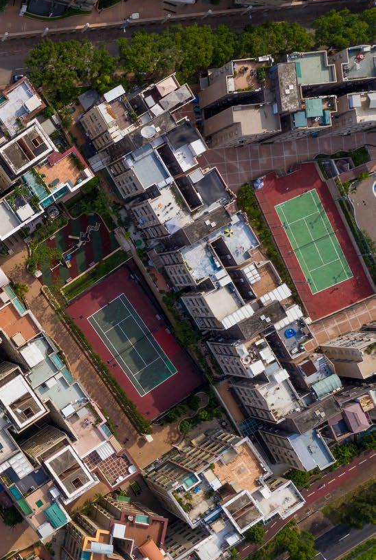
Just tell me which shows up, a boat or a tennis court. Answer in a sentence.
Of the two, only a tennis court appears.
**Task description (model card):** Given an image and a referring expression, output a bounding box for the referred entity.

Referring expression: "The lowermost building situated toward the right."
[146,427,306,560]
